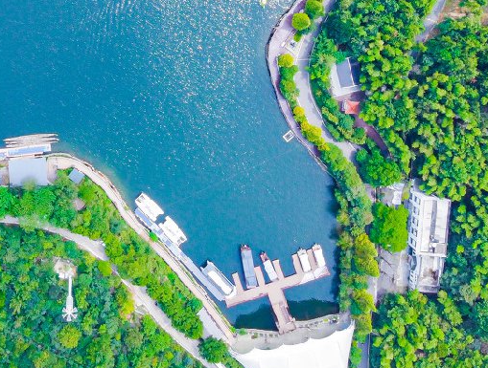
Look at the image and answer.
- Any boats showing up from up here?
Yes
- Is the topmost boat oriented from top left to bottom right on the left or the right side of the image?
left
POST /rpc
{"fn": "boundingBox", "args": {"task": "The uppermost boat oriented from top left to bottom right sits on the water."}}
[134,192,166,222]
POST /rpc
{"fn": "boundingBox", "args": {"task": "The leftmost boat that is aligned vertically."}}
[241,246,259,292]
